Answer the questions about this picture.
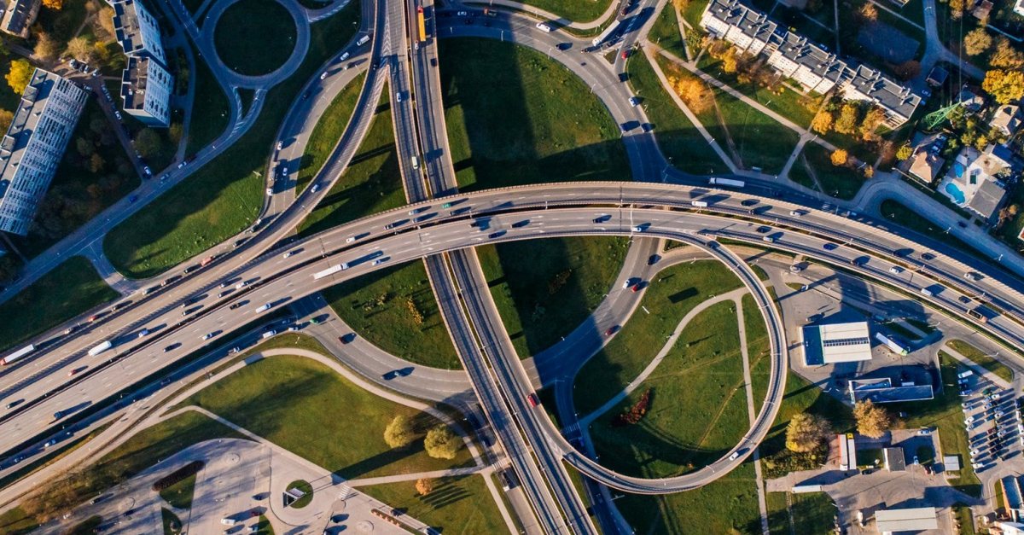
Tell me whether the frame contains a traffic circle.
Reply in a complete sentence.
Yes, the picture does show a traffic circle.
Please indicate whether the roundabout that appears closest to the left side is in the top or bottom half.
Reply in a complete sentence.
You can find the roundabout that appears closest to the left side in the top half.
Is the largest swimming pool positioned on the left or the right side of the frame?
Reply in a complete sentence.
It is on the right.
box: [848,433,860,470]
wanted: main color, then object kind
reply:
white vehicle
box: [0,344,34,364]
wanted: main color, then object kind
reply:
white vehicle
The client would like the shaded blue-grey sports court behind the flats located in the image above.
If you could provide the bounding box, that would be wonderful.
[858,20,919,61]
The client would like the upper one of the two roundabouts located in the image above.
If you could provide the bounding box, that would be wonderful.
[200,0,311,88]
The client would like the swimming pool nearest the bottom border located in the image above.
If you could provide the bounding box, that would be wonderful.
[946,182,966,204]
